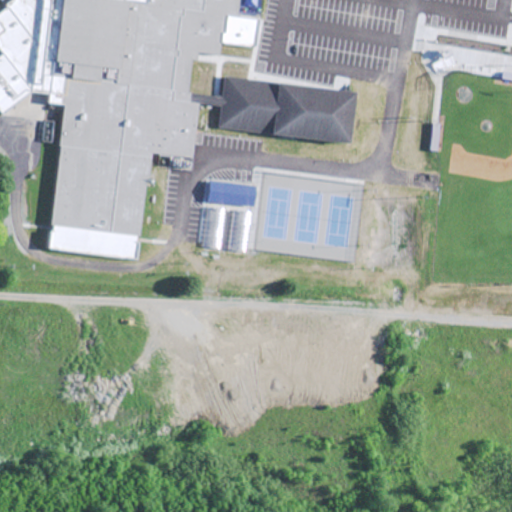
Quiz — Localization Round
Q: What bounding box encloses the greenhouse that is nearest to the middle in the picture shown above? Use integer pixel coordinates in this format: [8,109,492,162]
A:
[228,210,252,252]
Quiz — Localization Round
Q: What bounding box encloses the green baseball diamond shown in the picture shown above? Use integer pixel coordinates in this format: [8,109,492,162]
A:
[431,71,512,286]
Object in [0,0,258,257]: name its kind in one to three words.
building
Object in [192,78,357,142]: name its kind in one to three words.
building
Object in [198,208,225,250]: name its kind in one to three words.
greenhouse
